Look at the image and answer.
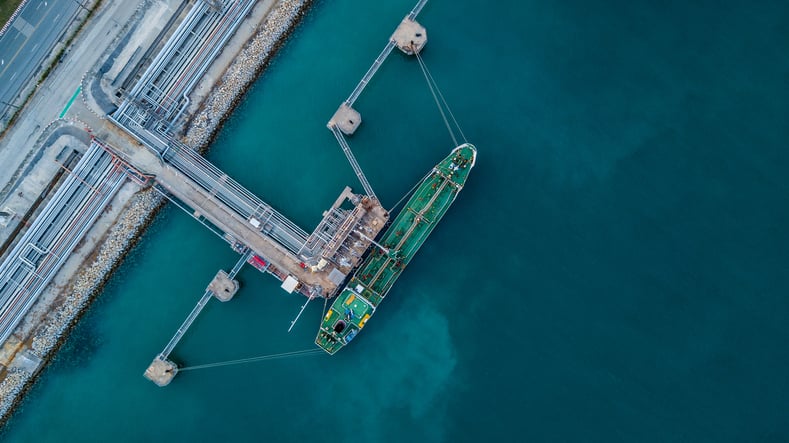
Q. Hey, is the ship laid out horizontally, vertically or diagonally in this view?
diagonally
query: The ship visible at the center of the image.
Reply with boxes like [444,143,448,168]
[314,142,478,357]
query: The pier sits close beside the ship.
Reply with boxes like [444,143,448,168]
[146,143,389,299]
